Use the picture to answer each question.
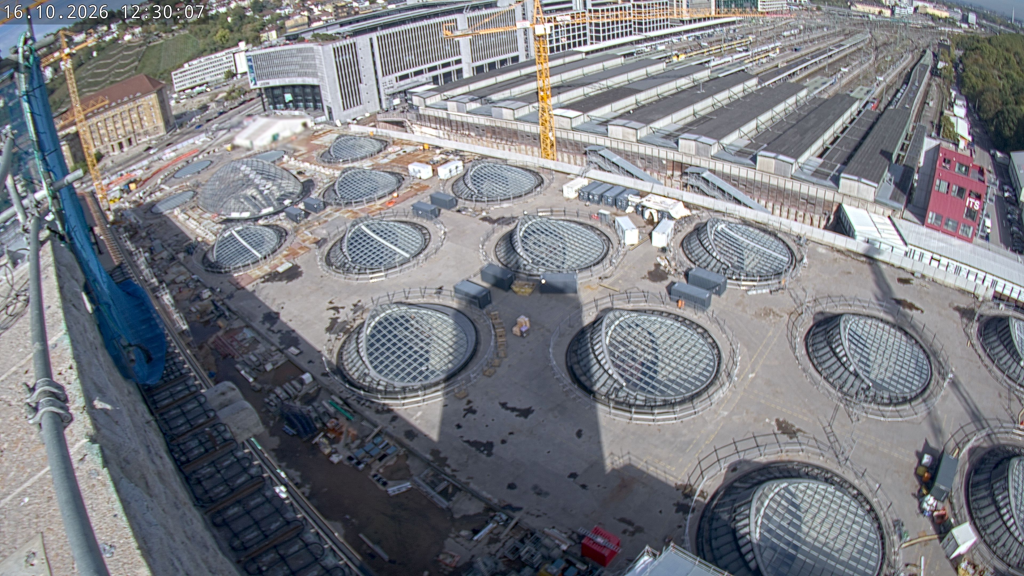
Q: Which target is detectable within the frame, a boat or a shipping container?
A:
shipping container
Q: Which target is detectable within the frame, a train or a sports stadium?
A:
train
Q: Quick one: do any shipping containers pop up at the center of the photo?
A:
Yes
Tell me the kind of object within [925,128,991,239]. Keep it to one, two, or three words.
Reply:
building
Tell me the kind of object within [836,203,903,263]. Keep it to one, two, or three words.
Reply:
building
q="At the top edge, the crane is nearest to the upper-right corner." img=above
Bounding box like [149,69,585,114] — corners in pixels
[451,0,794,160]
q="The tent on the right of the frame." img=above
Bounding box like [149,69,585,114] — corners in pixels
[635,194,689,224]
